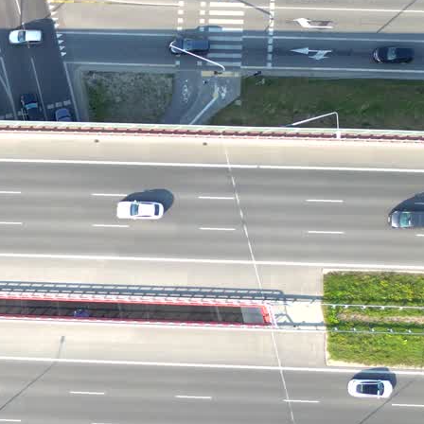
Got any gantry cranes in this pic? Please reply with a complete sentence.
No, no gantry crane is visible in the view.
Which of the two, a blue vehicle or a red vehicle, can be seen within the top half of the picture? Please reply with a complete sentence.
Looking within the top half of the picture, you will find a blue vehicle.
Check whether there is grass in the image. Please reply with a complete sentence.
Yes, there is grass in the image.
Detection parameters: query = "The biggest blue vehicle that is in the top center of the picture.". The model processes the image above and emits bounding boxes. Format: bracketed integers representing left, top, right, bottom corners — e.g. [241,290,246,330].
[169,36,211,56]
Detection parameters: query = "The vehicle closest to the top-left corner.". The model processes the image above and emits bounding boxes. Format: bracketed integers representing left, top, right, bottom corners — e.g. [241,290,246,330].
[7,27,43,46]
